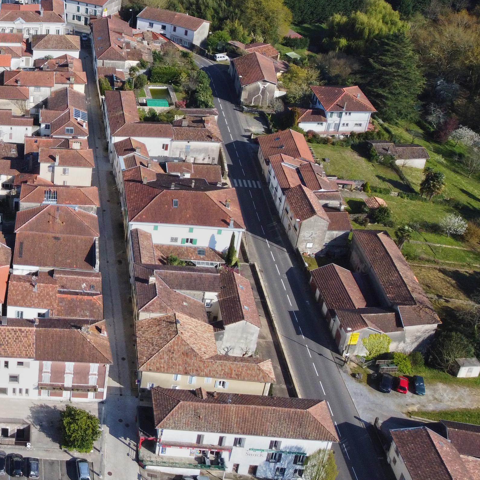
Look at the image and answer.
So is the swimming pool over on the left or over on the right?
left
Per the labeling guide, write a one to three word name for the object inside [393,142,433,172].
house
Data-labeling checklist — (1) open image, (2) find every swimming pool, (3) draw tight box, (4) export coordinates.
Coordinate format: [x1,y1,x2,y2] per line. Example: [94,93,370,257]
[143,85,177,108]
